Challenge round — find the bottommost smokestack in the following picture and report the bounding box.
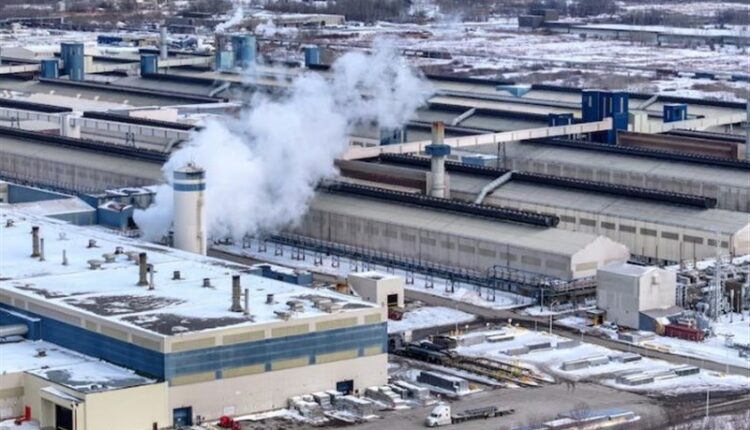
[222,275,245,314]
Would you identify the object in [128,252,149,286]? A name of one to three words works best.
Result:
chimney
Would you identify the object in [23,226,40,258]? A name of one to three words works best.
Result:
chimney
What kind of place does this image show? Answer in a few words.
industrial area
